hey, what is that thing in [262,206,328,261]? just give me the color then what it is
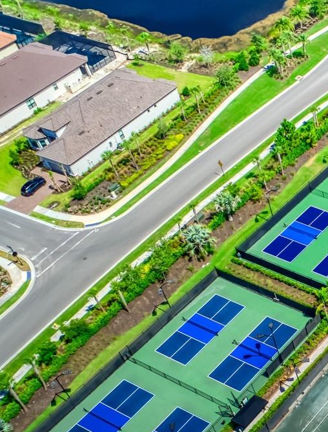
blue sports court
